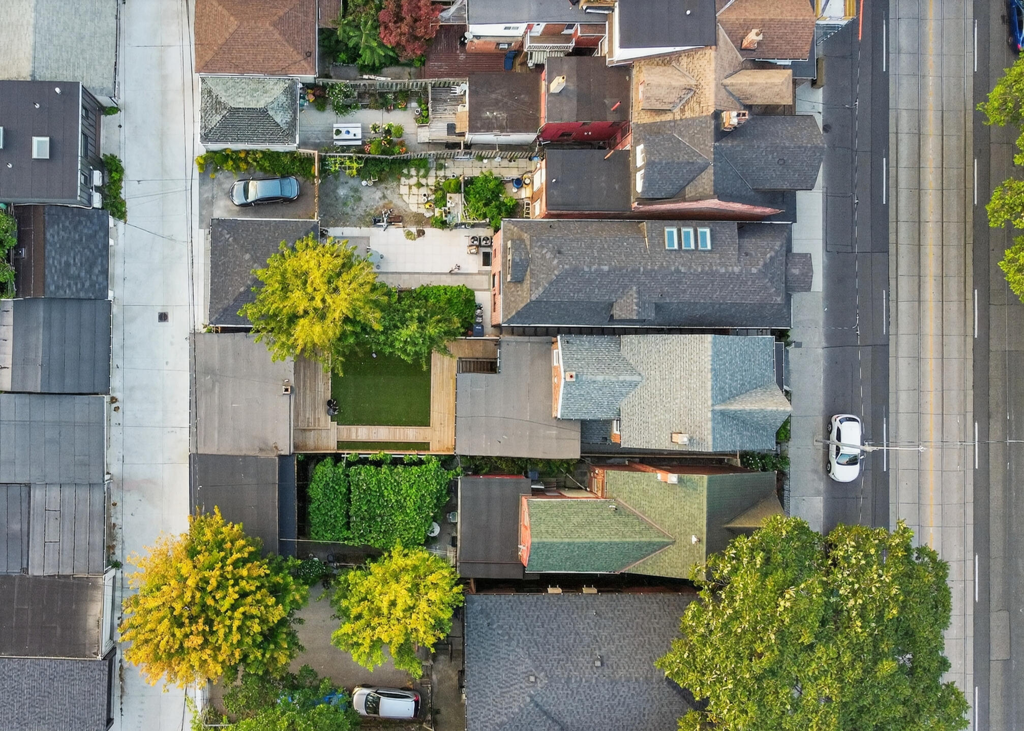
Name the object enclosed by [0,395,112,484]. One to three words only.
building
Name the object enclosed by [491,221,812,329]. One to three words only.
house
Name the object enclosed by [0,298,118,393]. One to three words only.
building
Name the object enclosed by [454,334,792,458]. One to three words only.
house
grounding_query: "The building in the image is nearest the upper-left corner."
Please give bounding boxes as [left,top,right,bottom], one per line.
[0,0,121,101]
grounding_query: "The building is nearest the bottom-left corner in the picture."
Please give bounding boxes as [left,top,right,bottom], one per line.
[0,653,115,731]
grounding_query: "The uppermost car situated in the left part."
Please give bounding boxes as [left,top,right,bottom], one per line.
[227,172,301,207]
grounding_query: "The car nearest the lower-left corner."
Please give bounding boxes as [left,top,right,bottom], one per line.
[354,690,422,725]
